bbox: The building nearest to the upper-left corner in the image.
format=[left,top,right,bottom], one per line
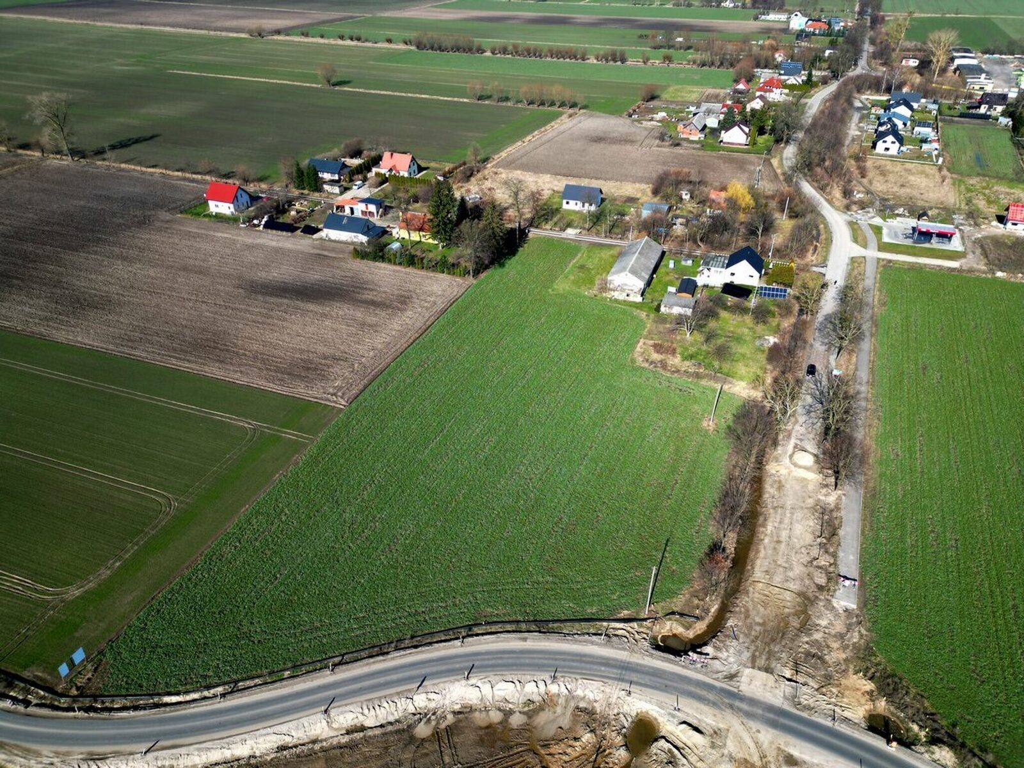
[205,181,260,216]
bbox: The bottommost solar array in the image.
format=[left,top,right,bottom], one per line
[757,288,787,301]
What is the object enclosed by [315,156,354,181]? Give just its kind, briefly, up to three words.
house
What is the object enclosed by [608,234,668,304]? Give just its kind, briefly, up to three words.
barn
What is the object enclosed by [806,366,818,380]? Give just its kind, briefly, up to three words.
vehicle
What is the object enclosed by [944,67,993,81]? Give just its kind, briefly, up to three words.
building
